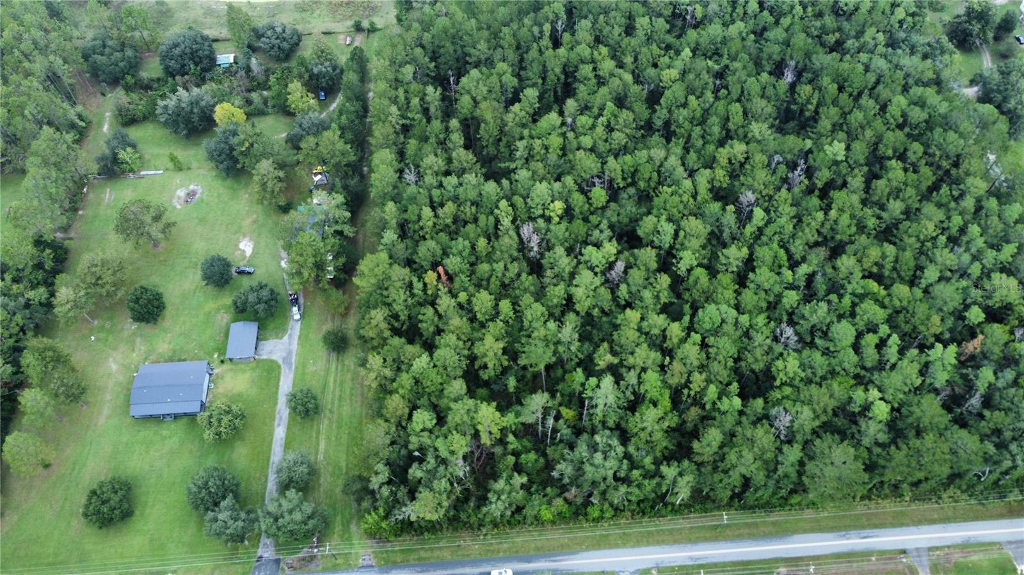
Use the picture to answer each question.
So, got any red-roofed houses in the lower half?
No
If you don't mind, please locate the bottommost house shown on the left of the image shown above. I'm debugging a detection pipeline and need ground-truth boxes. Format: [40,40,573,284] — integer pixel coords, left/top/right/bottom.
[129,360,224,423]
